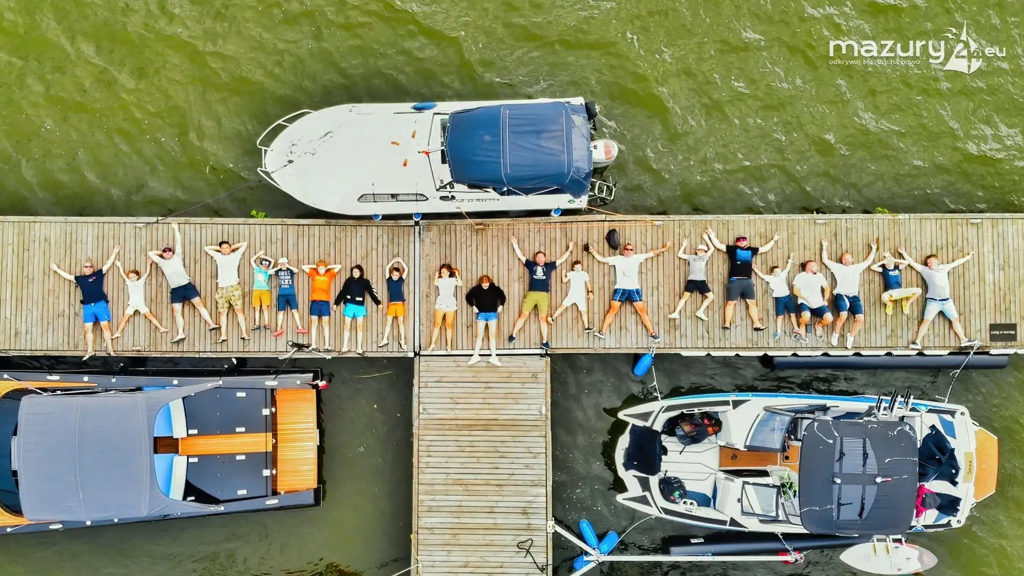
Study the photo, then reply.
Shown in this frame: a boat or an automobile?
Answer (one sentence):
The image shows a boat.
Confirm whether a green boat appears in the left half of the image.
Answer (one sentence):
No, I see no green boat in the left half of the image.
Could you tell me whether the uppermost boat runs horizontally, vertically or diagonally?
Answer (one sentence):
From this overhead view, the uppermost boat appears to run horizontally.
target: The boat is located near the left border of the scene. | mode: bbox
[0,368,322,534]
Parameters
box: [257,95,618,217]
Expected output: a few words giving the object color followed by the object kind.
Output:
white boat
